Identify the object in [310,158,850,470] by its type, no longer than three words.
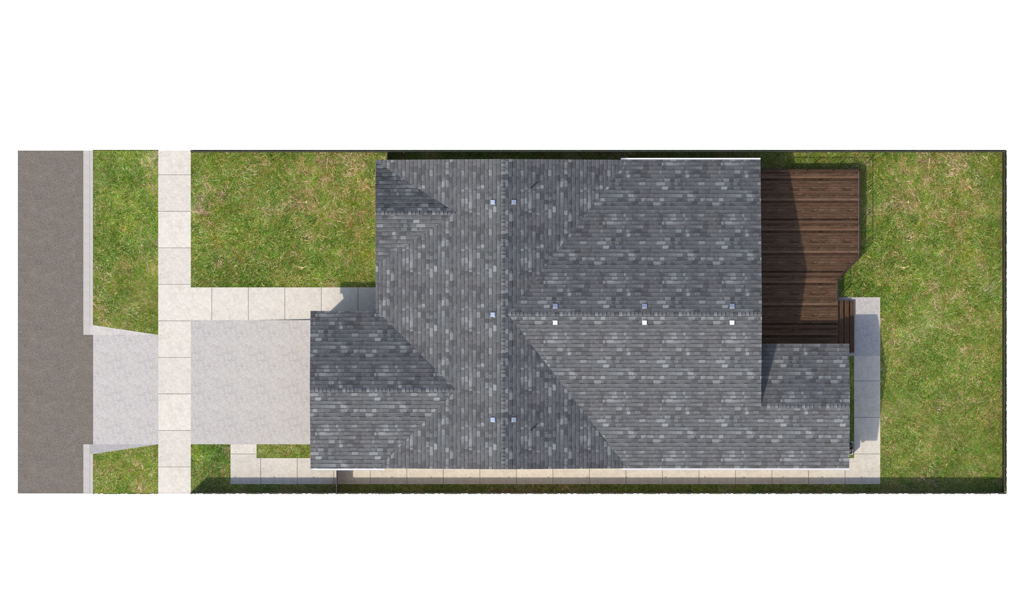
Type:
house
